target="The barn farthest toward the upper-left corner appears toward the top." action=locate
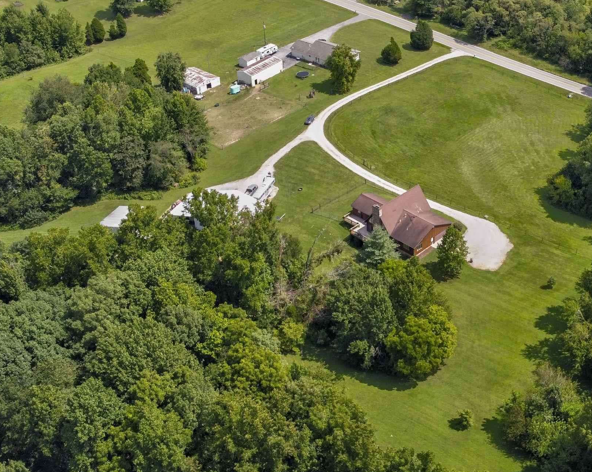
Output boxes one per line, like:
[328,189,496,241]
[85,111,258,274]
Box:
[173,69,224,93]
